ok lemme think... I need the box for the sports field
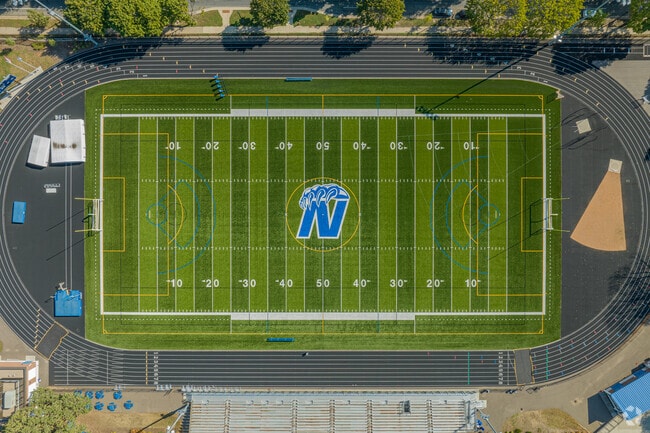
[84,79,561,350]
